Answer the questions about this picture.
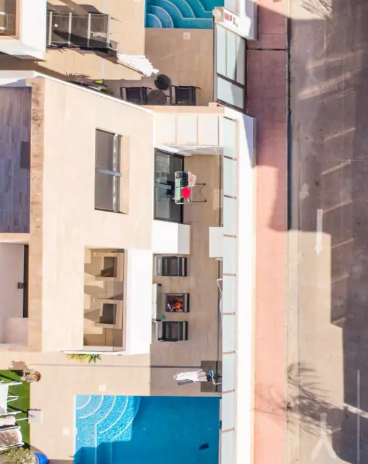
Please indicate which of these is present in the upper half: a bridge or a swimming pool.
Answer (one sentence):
Looking in the upper half, you will find a swimming pool.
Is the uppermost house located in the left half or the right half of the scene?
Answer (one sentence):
The uppermost house appears in the left half of the scene.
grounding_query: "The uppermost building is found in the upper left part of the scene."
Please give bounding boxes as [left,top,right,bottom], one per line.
[0,0,65,58]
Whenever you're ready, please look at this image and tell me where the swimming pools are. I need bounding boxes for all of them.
[72,396,220,464]
[144,0,211,28]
